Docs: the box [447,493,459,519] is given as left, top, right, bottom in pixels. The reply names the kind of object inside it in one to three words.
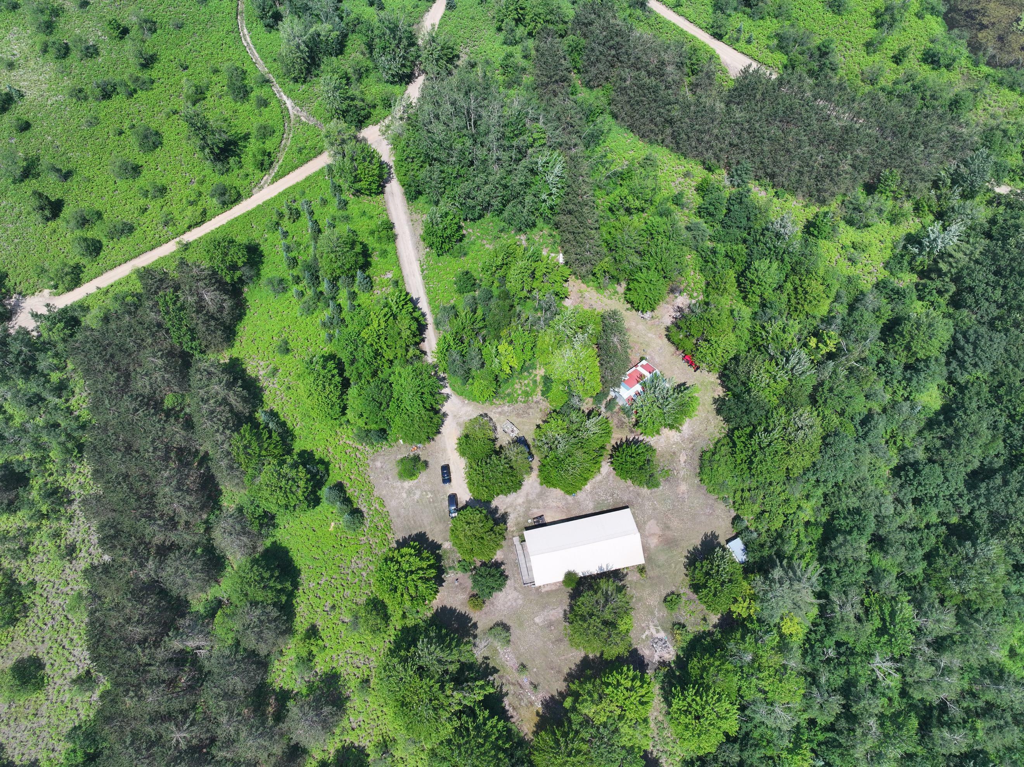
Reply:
vehicle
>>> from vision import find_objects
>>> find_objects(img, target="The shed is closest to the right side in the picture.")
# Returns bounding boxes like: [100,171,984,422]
[727,537,751,563]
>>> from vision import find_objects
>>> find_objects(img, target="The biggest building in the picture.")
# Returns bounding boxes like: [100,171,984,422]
[523,508,645,587]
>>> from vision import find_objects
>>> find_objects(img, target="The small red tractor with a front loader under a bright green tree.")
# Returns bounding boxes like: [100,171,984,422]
[677,354,698,373]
